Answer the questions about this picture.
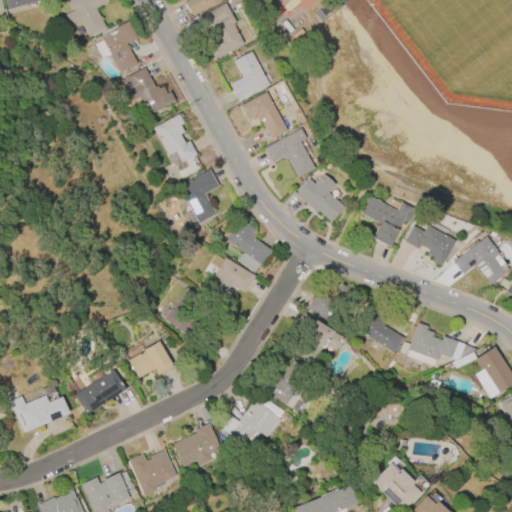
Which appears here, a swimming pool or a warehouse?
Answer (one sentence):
Looking from above, you can make out a swimming pool.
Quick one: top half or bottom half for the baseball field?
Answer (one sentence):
Seen from above, the baseball field lies in the top half of the view.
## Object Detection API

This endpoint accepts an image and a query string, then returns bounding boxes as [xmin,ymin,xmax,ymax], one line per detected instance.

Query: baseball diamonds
[367,0,512,110]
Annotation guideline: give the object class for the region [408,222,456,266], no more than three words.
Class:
house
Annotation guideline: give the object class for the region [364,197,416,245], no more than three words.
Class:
house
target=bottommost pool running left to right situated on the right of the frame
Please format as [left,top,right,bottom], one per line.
[412,442,441,456]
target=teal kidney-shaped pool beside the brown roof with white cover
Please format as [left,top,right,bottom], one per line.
[101,58,118,78]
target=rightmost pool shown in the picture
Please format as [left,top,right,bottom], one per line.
[448,374,474,394]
